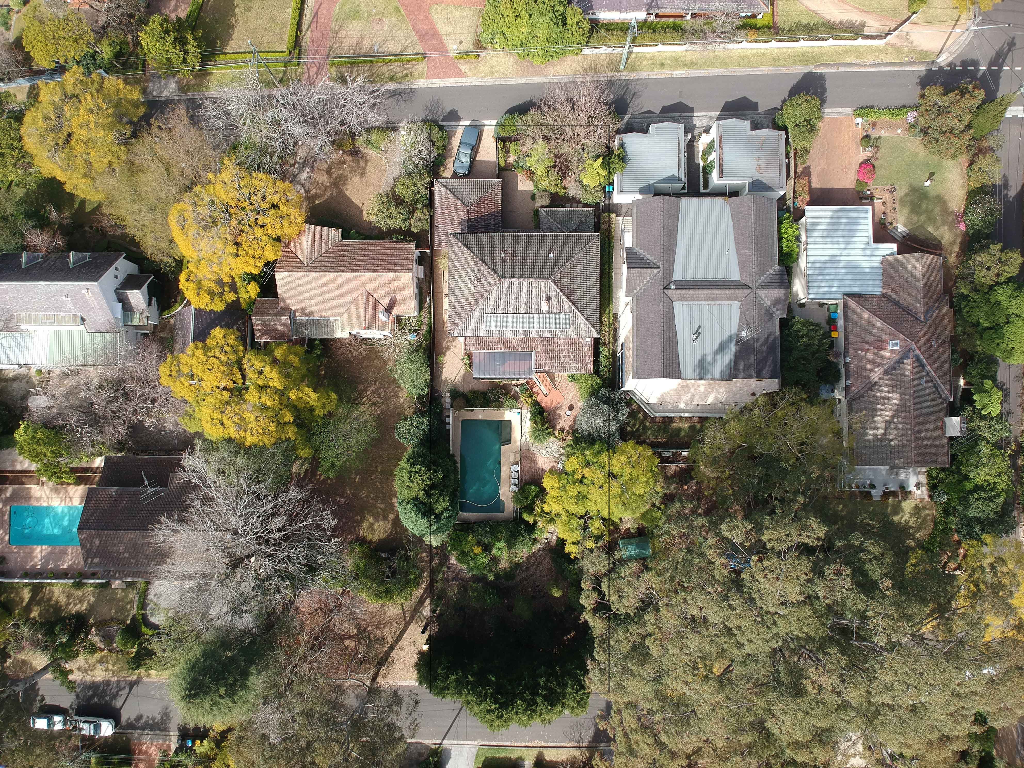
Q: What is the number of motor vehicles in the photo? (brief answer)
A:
3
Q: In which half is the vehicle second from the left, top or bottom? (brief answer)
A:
bottom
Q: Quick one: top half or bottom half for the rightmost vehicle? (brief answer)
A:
top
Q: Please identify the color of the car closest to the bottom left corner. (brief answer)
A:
white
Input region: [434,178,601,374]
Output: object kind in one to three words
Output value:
house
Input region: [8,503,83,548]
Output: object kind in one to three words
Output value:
swimming pool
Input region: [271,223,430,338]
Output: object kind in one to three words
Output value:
house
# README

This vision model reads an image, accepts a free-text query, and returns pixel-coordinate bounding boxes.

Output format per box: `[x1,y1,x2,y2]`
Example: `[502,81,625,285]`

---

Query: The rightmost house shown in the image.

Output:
[803,205,964,468]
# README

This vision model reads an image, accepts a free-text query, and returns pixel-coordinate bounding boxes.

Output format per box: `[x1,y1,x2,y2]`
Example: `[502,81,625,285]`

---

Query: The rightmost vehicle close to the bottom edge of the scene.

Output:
[64,716,115,742]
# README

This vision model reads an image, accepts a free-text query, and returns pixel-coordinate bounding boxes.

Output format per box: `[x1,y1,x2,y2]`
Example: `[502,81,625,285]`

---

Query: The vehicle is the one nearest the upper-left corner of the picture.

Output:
[455,123,481,175]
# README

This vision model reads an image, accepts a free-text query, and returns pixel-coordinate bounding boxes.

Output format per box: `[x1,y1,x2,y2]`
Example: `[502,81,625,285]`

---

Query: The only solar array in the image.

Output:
[485,313,571,330]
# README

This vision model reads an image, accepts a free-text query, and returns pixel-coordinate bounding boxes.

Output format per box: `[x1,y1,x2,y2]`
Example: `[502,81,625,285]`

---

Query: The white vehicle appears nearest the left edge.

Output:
[25,714,63,735]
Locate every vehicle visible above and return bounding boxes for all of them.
[64,716,115,742]
[25,714,63,735]
[455,123,481,175]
